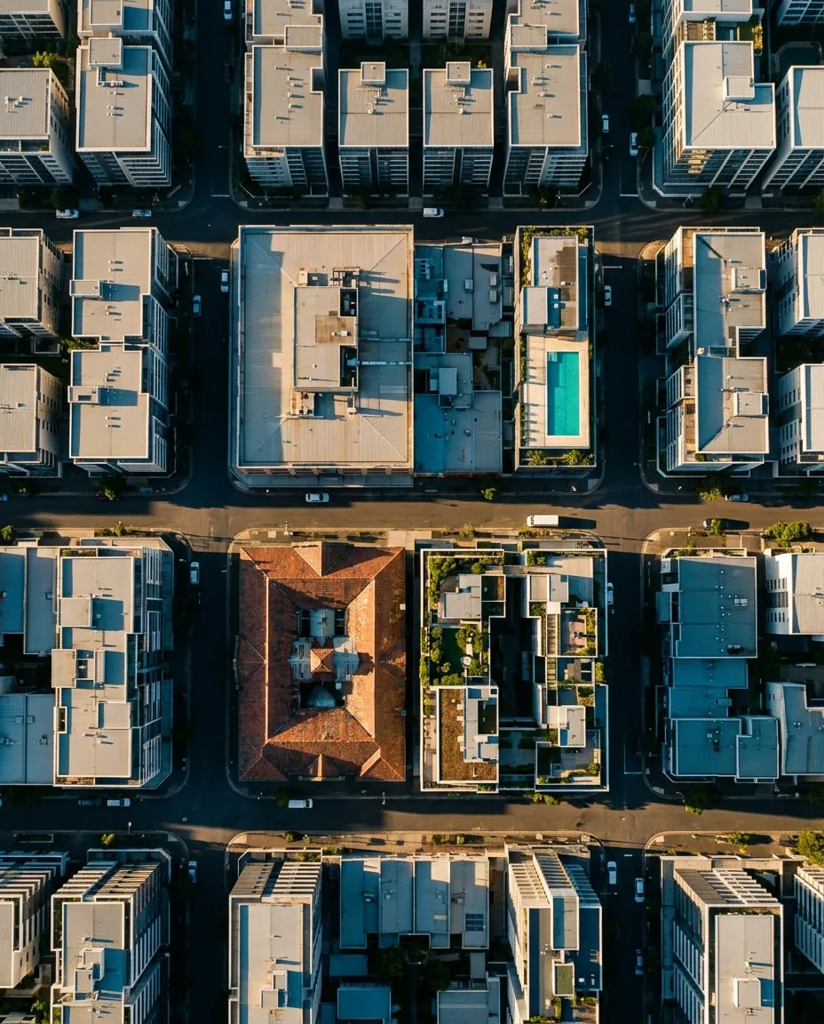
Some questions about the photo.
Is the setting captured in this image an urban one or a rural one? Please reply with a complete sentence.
From above, the setting appears urban.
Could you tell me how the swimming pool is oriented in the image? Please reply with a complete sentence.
The swimming pool is laid out from top to bottom.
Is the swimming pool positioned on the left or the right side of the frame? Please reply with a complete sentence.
The swimming pool is on the right side of the image.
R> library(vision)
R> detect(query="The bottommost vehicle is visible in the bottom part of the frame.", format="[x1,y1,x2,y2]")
[634,948,646,974]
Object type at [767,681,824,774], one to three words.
building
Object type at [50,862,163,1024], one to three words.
building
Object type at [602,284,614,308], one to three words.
vehicle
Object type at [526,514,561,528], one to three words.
vehicle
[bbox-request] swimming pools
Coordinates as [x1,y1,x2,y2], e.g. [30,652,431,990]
[547,351,580,436]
